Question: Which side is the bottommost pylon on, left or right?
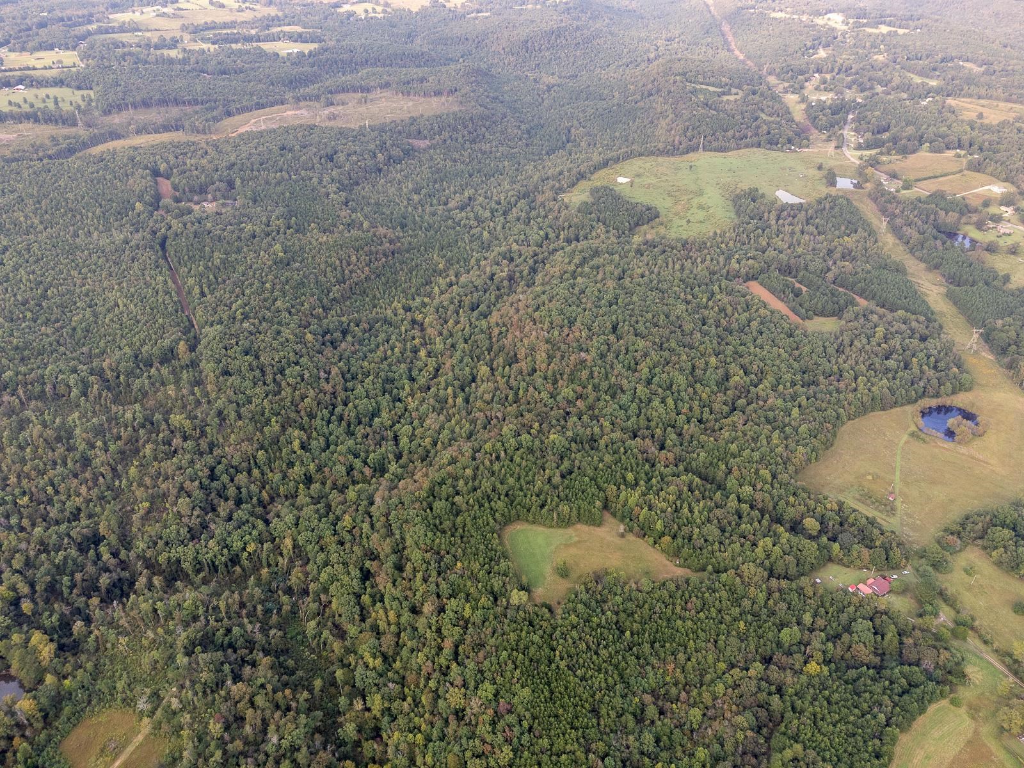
right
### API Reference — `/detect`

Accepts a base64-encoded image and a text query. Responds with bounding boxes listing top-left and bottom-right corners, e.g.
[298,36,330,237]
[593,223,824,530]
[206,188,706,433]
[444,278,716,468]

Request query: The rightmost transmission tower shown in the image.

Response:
[966,324,989,354]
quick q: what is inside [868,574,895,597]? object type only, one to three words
house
